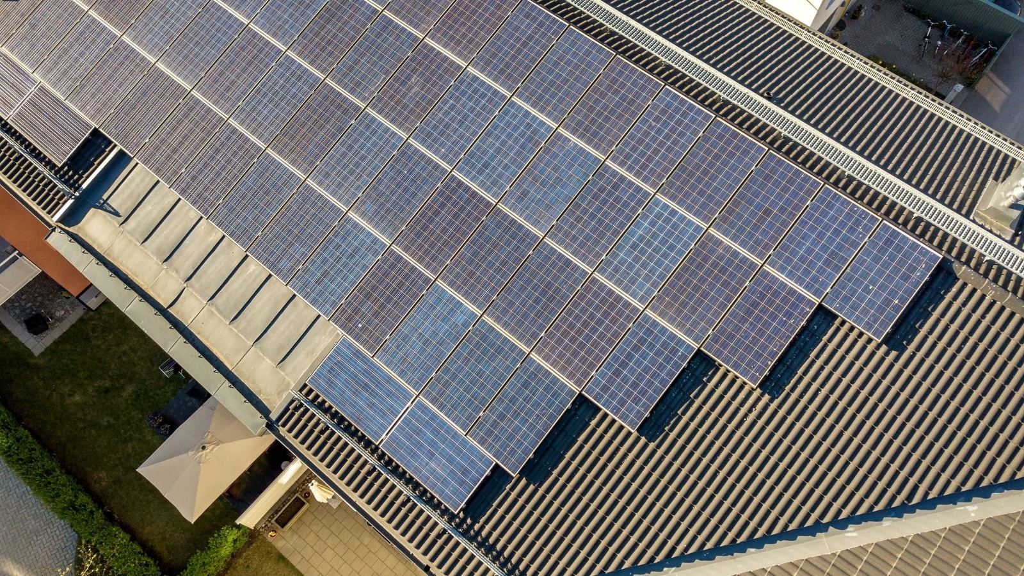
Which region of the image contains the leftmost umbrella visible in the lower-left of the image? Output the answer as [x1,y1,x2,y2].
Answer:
[138,399,275,523]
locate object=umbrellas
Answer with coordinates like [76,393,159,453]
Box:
[310,483,344,509]
[138,399,275,523]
